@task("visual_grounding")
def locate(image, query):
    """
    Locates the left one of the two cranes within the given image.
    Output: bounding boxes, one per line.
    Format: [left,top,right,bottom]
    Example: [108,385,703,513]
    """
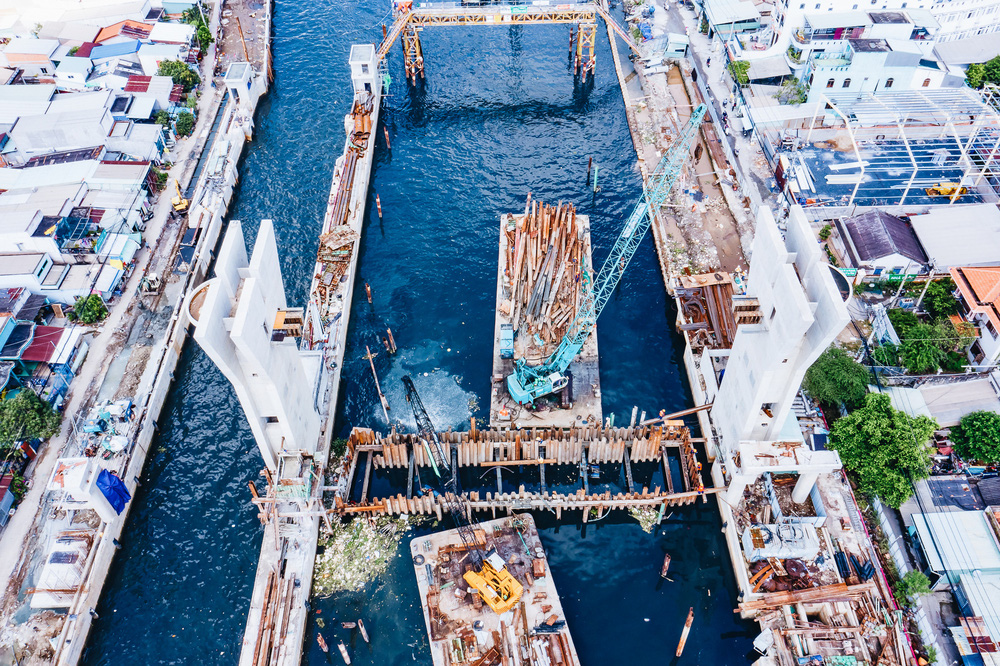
[399,372,521,618]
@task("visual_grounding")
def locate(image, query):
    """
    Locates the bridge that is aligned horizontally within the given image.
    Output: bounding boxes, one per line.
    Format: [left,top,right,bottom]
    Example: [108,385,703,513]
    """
[403,0,603,94]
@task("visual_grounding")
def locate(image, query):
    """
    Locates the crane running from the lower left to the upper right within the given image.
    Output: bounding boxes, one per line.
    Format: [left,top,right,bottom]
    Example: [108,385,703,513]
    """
[507,101,707,403]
